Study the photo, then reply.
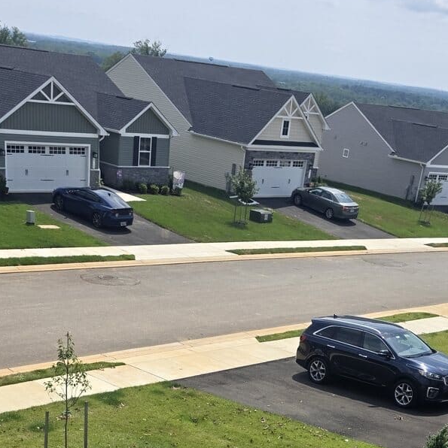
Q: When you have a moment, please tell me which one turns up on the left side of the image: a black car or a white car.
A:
black car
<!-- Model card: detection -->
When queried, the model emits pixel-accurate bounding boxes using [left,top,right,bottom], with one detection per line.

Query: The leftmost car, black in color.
[54,188,141,227]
